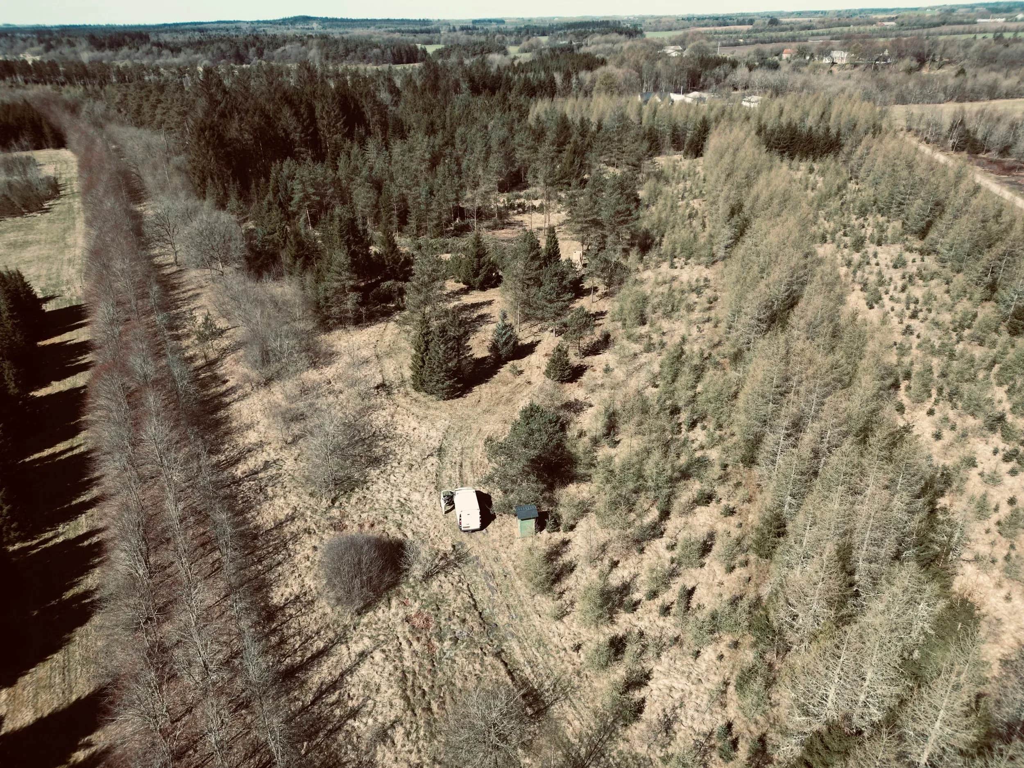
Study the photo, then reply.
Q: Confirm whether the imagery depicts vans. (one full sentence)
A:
Yes, there's a van down there.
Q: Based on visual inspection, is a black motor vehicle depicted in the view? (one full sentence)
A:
No, I can see no black motor vehicle in this picture.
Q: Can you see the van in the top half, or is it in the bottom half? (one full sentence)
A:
Seen from above, the van lies in the bottom half of the view.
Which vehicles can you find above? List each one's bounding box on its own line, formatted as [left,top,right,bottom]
[442,492,482,530]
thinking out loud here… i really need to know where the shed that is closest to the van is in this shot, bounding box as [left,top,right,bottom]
[514,505,537,536]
